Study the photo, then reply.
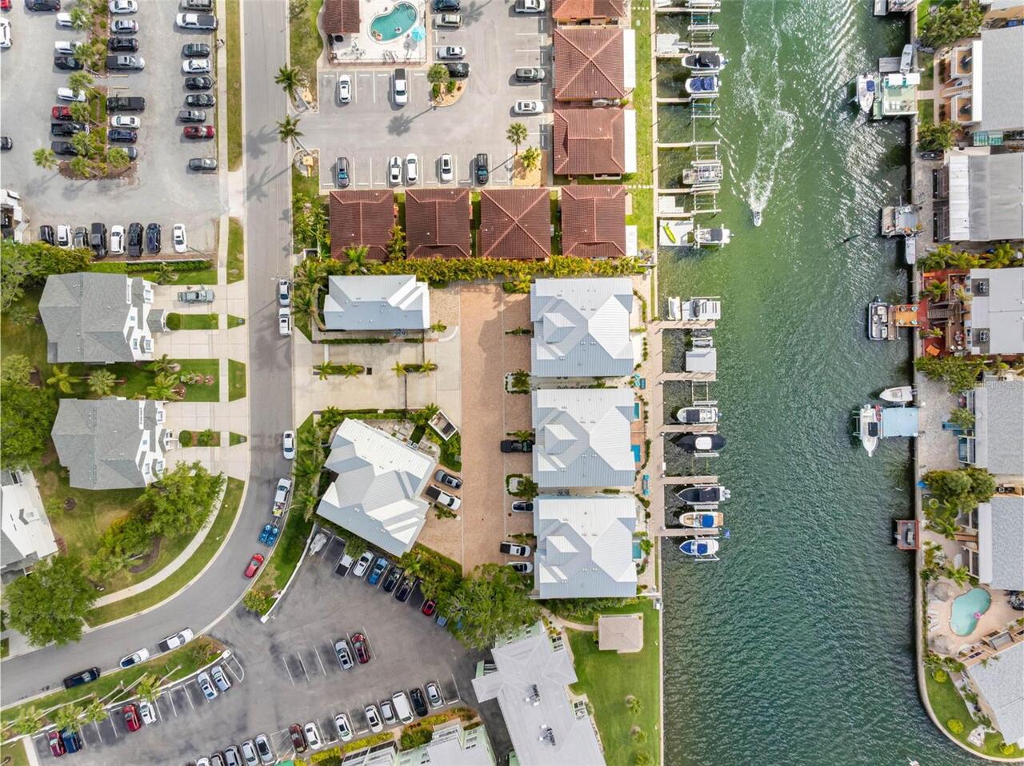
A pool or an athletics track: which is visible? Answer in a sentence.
Of the two, only a pool appears.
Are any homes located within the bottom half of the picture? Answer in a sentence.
Yes, a home shows up within the bottom half of the picture.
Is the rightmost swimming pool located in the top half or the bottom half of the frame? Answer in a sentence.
The rightmost swimming pool is in the bottom half of the image.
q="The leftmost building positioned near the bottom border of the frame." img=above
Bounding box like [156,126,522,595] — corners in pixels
[342,726,413,766]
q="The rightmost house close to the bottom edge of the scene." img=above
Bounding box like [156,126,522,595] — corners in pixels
[952,619,1024,744]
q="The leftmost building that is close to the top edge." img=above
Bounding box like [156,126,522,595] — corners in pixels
[325,0,361,40]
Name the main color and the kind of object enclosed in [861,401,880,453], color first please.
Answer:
white boat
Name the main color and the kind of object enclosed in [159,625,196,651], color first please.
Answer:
white truck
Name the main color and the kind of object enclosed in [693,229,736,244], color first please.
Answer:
white boat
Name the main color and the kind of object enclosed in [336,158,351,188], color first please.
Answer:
gray car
